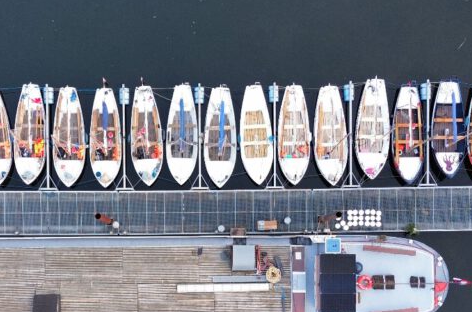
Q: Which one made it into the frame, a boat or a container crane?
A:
boat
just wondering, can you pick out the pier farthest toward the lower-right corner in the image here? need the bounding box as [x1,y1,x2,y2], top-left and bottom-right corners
[312,187,472,231]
